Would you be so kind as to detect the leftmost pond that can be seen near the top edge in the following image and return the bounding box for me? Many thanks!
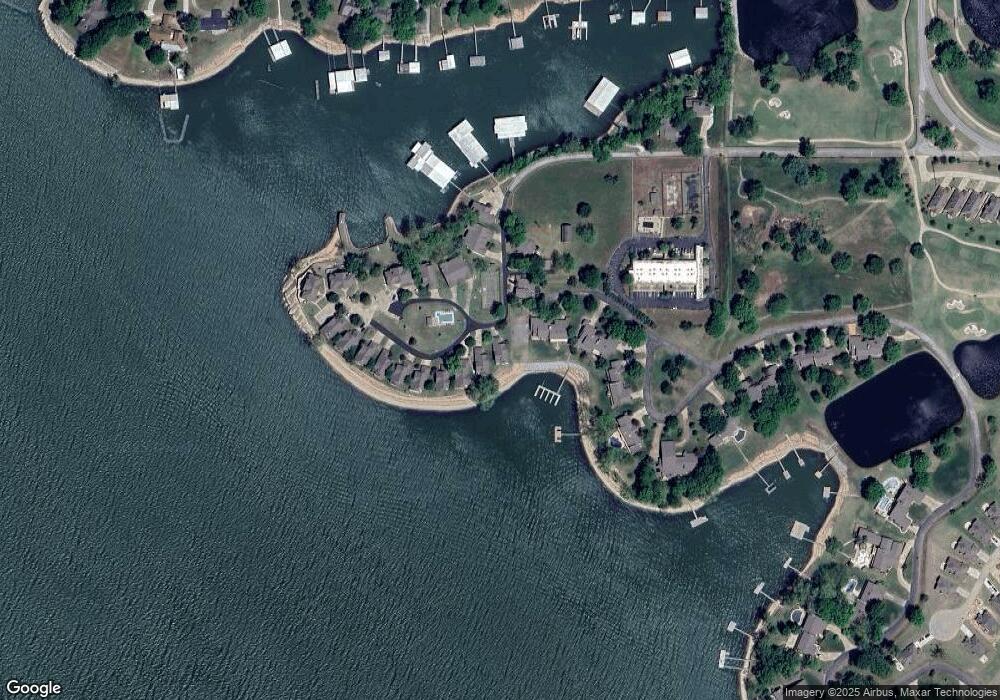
[736,0,858,77]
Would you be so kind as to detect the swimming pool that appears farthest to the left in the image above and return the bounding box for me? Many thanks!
[430,310,455,326]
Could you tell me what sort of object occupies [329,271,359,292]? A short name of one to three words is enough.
house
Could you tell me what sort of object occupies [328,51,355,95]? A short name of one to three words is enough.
pier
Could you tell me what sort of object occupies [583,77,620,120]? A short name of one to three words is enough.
pier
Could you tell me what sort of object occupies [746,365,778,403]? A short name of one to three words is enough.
house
